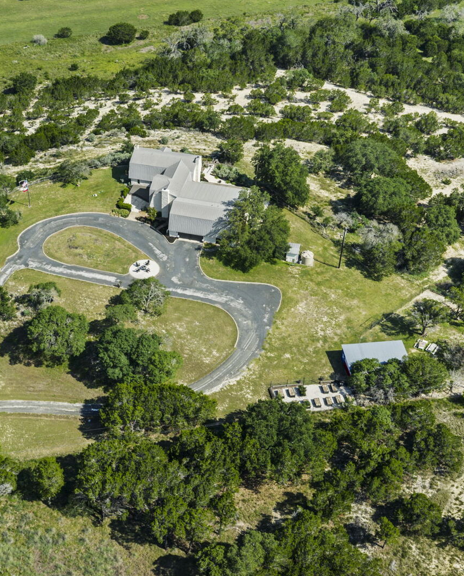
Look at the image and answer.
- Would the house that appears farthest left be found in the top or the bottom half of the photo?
top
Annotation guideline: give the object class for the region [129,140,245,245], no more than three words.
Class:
house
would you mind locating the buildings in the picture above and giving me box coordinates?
[129,140,245,245]
[340,339,412,380]
[286,242,300,263]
